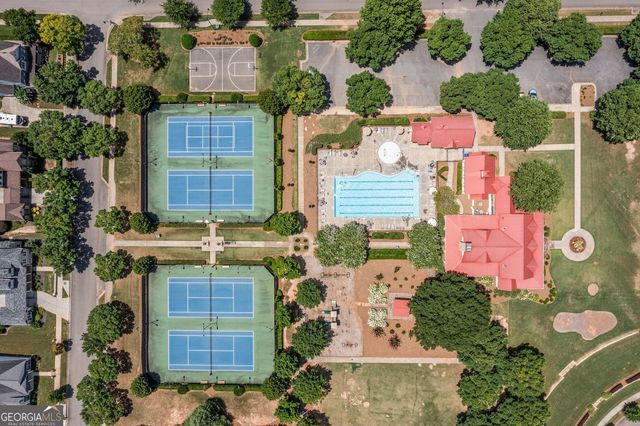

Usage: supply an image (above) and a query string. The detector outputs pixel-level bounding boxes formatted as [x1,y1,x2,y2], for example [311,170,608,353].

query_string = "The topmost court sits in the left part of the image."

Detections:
[189,47,256,92]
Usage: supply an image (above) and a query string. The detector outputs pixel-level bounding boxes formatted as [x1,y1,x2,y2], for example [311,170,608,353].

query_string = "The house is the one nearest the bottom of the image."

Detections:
[0,355,36,409]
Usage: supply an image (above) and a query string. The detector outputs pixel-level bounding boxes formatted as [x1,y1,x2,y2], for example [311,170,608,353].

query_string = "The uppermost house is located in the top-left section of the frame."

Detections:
[0,41,33,97]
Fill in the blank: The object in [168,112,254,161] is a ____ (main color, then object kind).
blue tennis court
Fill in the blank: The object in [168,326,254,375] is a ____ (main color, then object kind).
blue tennis court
